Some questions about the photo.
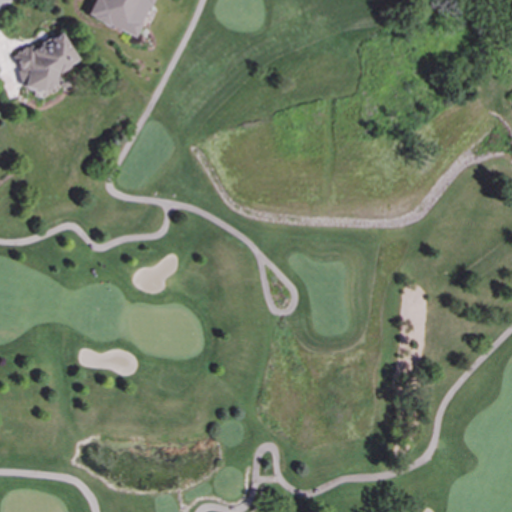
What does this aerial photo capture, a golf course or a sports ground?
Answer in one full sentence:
This image shows a golf course.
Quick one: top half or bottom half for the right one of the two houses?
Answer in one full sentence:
Seen from above, the right one of the two houses lies in the top half of the view.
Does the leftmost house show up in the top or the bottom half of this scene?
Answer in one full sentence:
Seen from above, the leftmost house lies in the top half of the view.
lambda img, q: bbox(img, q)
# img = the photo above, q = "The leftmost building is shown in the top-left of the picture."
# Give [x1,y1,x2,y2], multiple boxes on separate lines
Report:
[9,30,82,98]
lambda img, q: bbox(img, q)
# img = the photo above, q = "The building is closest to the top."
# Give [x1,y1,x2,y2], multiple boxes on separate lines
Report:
[90,0,158,38]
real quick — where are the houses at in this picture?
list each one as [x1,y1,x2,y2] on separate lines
[90,0,158,38]
[9,30,82,98]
